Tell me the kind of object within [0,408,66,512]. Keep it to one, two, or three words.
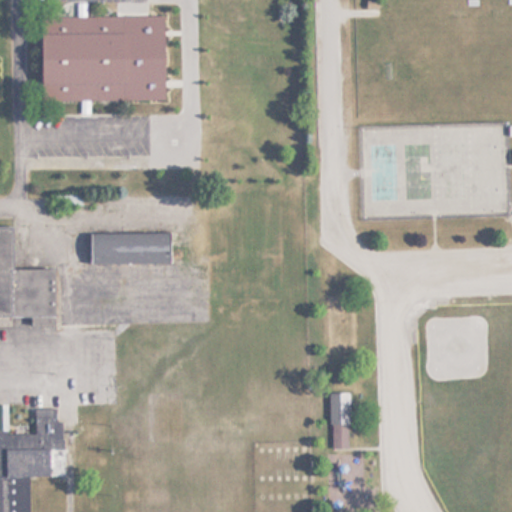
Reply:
building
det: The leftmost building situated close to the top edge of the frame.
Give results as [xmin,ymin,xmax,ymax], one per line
[43,0,168,117]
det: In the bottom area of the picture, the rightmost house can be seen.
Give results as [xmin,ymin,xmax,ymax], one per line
[331,392,352,450]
